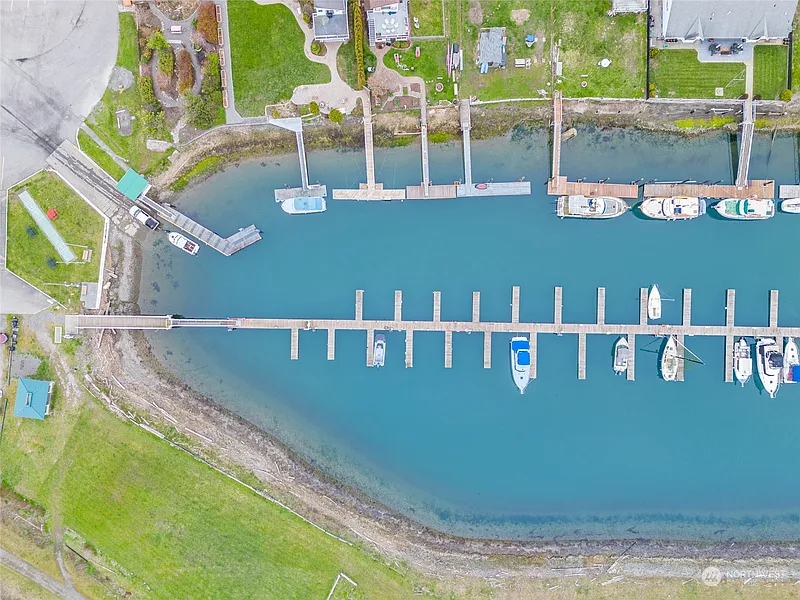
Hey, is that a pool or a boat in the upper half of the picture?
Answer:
boat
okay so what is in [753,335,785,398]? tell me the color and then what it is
white boat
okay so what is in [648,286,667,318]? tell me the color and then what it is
white boat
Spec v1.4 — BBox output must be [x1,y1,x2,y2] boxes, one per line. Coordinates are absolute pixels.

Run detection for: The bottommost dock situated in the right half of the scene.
[227,286,800,383]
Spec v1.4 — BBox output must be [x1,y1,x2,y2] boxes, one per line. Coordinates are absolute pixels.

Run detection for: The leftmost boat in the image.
[169,234,200,255]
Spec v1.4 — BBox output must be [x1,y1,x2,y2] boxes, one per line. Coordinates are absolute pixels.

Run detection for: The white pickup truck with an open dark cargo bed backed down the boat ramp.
[125,201,162,232]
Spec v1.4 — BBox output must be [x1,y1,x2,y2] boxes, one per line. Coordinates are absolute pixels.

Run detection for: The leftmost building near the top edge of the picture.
[312,0,347,44]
